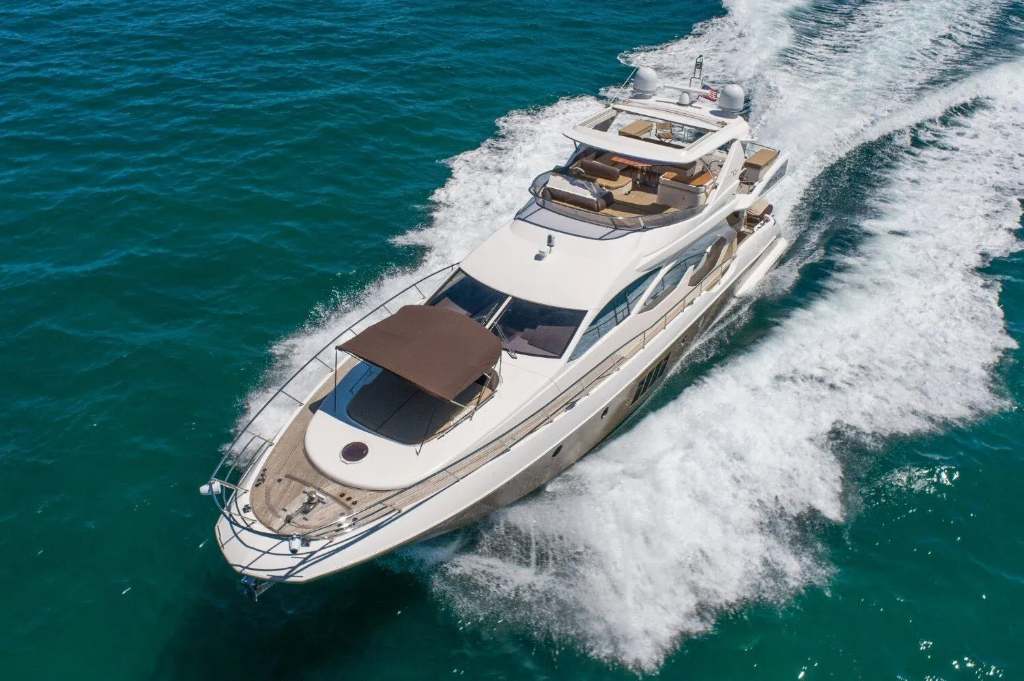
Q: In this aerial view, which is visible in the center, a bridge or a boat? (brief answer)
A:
boat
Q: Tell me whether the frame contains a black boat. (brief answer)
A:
No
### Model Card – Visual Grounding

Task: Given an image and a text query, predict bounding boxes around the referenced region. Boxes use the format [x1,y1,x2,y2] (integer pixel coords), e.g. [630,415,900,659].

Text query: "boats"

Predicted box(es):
[190,54,794,605]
